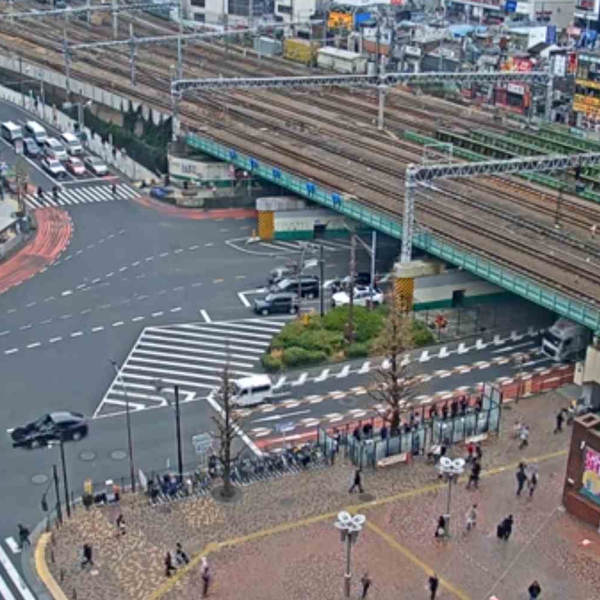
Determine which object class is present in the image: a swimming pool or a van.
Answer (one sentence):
I can see a van in this picture.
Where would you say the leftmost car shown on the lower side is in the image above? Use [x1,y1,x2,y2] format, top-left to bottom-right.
[18,411,91,445]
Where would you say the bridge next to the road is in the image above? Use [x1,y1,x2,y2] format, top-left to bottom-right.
[185,124,600,345]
